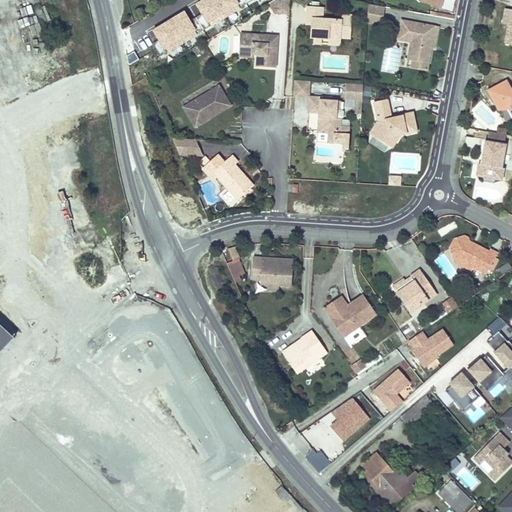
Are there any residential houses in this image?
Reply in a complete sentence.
Yes, you can see a residential house in this photo.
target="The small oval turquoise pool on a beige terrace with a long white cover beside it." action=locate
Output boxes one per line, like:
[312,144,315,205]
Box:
[208,28,240,61]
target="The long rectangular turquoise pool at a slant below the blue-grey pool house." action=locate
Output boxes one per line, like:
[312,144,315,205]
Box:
[456,467,481,490]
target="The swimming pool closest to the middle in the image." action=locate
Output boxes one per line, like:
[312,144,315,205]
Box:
[199,176,224,207]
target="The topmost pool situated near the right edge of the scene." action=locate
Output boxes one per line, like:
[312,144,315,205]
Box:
[472,100,504,130]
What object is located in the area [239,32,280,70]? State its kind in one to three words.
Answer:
house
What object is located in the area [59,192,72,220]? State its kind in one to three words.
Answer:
vehicle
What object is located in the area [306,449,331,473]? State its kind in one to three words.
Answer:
building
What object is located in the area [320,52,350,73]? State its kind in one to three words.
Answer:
swimming pool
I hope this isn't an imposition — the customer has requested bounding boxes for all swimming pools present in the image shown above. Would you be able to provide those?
[199,176,224,207]
[320,52,350,73]
[489,382,507,398]
[472,100,504,130]
[208,28,240,61]
[434,252,458,280]
[313,144,344,164]
[389,152,421,174]
[464,397,486,424]
[456,467,481,490]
